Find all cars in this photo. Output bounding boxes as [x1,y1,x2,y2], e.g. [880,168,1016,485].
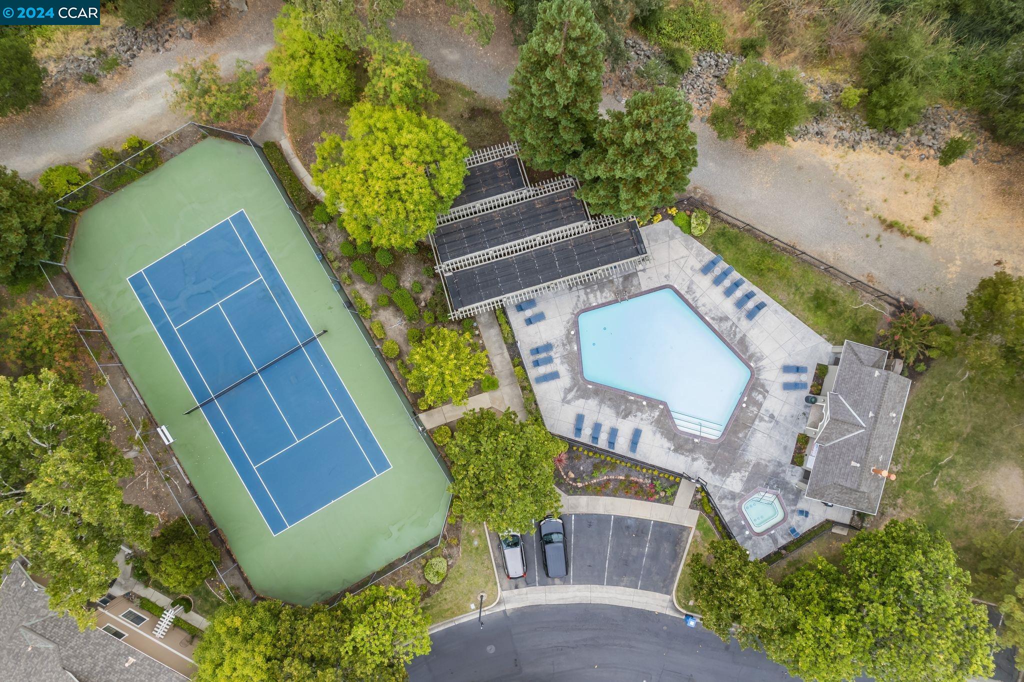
[498,527,526,585]
[539,515,568,579]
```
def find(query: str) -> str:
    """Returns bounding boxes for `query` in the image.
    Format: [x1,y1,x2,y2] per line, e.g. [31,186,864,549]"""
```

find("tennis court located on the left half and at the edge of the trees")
[66,136,454,606]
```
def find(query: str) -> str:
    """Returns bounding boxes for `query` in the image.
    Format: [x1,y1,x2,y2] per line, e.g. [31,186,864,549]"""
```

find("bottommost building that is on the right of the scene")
[798,339,912,515]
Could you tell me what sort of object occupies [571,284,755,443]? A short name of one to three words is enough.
swimming pool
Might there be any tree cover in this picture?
Yes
